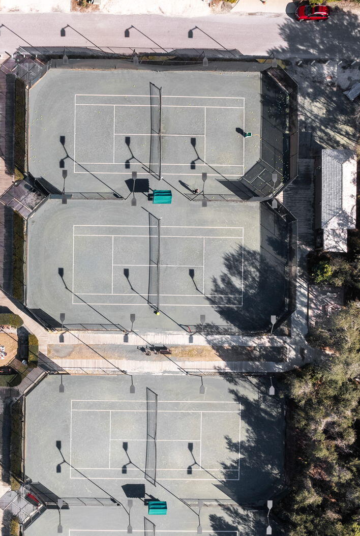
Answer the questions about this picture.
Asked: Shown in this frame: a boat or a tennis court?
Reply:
tennis court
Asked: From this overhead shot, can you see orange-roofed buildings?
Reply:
No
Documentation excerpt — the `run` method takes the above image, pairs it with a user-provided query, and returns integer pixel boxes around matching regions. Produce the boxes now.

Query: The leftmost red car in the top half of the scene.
[295,3,329,22]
